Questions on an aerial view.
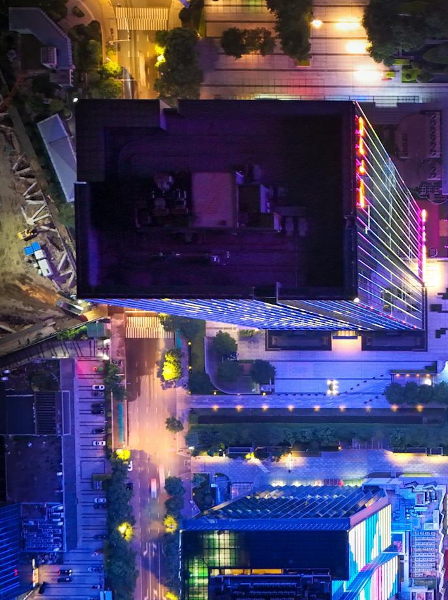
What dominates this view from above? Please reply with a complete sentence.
Most of the picture is covered by buildings.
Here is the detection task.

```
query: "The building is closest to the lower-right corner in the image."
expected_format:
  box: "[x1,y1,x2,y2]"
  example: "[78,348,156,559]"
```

[362,472,448,600]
